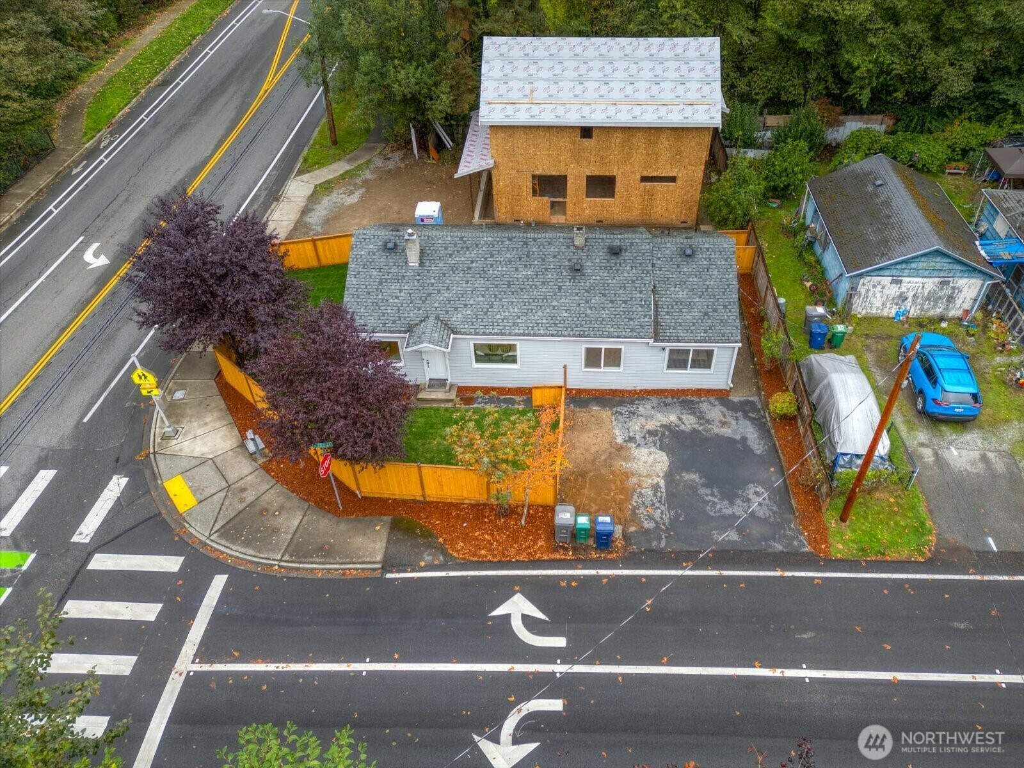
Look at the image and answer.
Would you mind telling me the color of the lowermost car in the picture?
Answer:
blue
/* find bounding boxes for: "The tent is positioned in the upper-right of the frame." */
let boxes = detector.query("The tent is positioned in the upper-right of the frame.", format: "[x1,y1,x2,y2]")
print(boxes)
[970,151,1024,187]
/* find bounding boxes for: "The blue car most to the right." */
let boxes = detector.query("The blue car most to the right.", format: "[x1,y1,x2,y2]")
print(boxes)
[899,334,985,421]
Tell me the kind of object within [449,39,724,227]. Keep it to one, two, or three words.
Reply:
house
